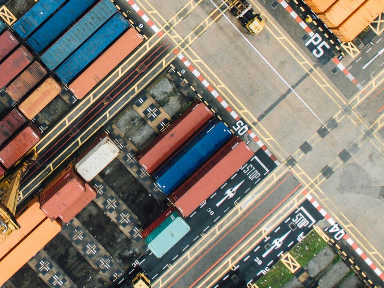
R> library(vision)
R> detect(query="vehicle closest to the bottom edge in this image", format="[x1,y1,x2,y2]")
[119,268,158,288]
